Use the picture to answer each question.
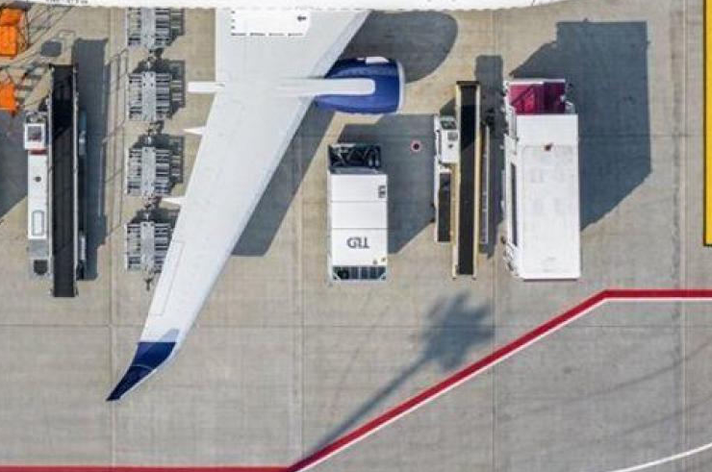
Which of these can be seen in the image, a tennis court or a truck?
truck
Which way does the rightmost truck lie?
from top to bottom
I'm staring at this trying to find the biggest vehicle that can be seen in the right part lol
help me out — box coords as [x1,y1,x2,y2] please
[490,71,579,280]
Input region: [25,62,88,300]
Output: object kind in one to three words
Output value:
work vehicle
